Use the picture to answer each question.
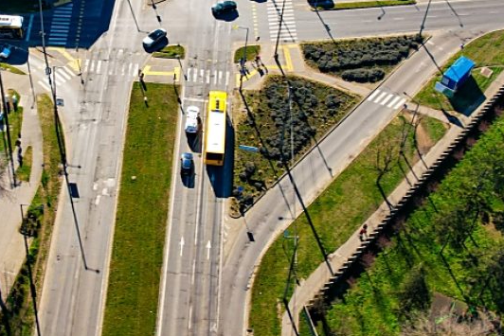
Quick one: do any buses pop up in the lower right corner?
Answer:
No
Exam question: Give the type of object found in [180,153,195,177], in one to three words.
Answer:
car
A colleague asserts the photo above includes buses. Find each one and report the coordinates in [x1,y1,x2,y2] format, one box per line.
[201,93,228,168]
[0,14,25,38]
